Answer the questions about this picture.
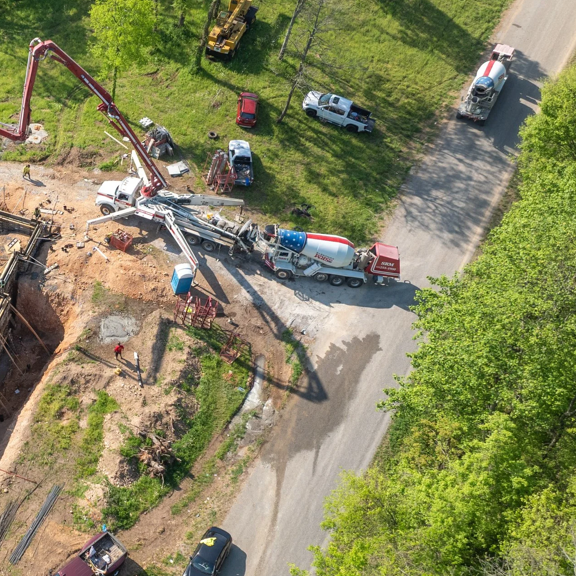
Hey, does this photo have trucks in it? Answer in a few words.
Yes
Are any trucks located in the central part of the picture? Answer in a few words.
Yes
